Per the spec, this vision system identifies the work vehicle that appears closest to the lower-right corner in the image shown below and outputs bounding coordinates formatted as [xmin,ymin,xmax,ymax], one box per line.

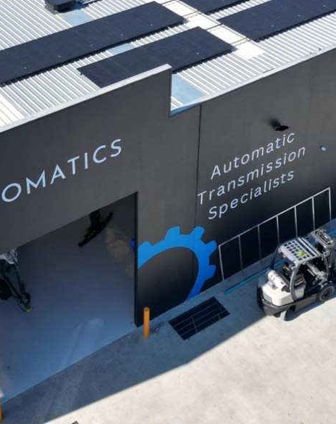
[255,227,336,325]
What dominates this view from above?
buildings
